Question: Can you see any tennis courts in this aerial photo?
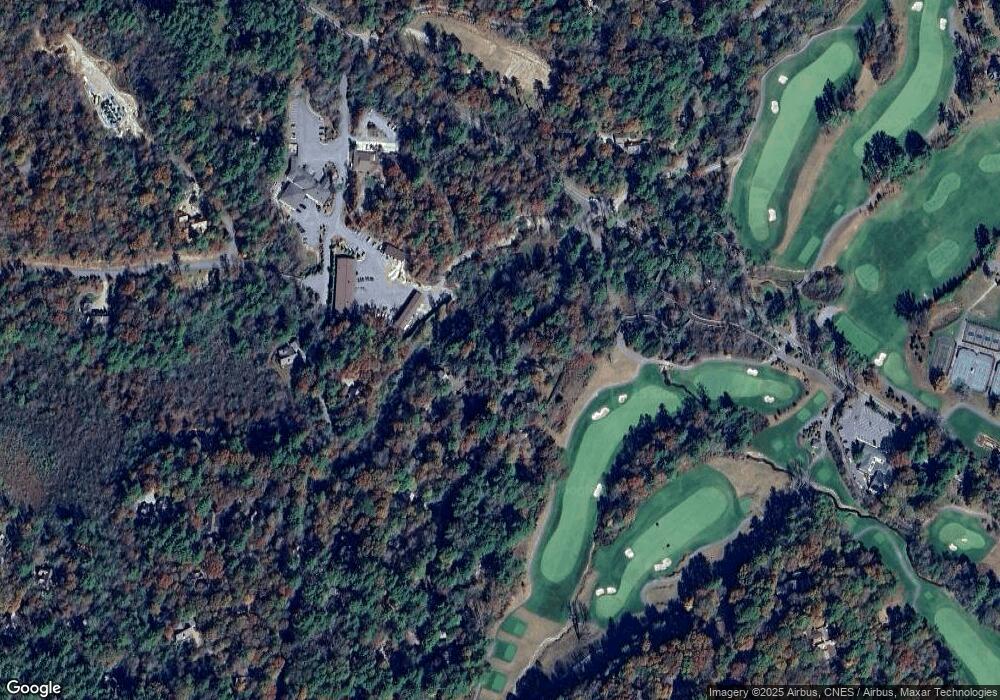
Yes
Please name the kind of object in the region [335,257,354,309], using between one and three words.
barn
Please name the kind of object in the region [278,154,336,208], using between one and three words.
building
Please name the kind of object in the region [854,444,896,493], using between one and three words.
building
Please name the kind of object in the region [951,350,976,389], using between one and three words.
tennis court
